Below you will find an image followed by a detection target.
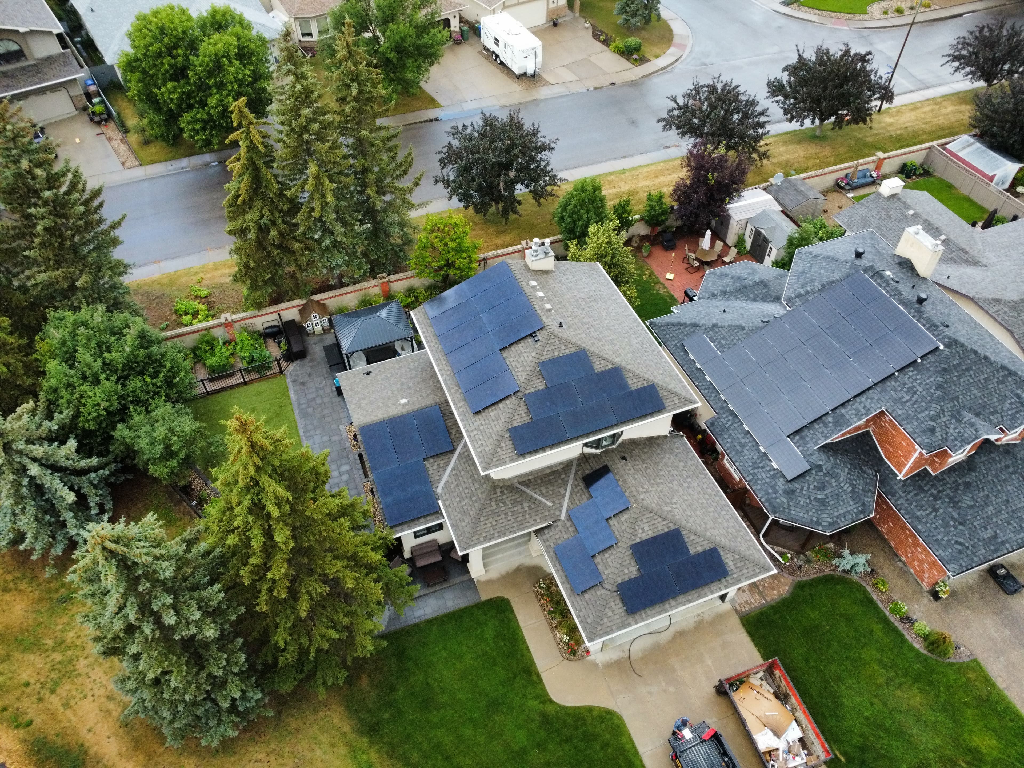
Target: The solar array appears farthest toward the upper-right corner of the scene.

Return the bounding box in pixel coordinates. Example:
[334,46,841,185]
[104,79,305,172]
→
[684,270,939,480]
